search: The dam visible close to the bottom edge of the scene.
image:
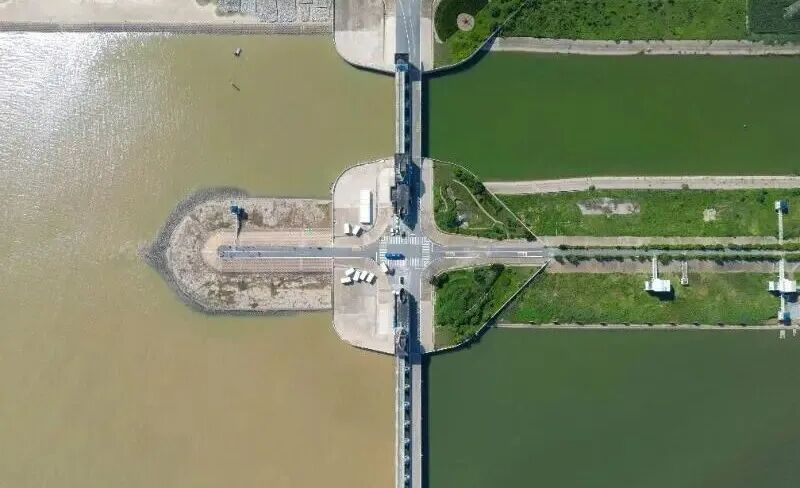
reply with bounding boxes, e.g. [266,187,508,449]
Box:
[395,354,422,488]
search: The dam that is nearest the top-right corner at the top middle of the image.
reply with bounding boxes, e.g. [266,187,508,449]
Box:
[395,73,422,157]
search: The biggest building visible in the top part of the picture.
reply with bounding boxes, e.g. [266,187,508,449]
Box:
[391,154,411,222]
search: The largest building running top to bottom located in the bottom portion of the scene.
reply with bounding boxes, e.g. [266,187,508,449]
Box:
[393,287,409,354]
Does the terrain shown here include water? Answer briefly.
Yes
